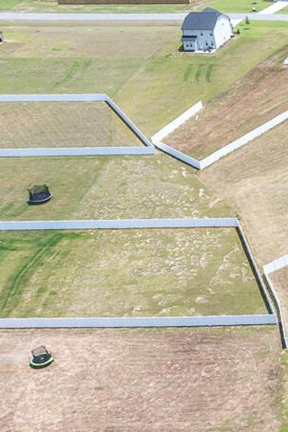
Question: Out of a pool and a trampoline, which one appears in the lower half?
trampoline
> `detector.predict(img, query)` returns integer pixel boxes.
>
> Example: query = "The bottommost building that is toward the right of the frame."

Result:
[175,7,235,53]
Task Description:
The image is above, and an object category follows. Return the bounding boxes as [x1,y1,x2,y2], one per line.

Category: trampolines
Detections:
[24,182,49,202]
[20,341,55,368]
